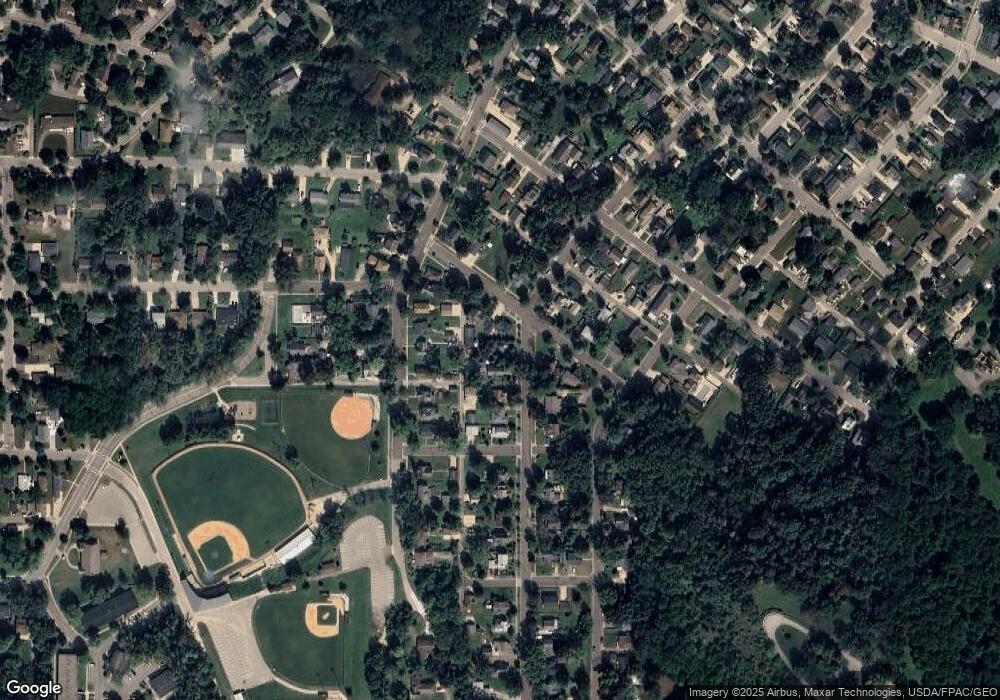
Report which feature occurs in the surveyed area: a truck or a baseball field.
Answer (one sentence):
It is a baseball field that can be seen here.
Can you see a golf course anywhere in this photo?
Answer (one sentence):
No, this view has no golf course in it.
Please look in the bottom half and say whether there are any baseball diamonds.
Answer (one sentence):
Yes, I can see a baseball diamond in the bottom half.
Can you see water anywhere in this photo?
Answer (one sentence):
No, water can't be seen anywhere here.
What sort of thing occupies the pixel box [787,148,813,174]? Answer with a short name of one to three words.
house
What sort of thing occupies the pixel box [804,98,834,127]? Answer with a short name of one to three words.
building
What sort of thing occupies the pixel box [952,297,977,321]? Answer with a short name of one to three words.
house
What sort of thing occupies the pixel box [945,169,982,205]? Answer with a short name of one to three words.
building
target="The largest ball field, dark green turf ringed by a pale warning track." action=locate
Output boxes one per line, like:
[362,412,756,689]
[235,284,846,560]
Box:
[152,443,308,586]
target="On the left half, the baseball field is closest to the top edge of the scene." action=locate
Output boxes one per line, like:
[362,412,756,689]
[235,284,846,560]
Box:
[281,391,380,488]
